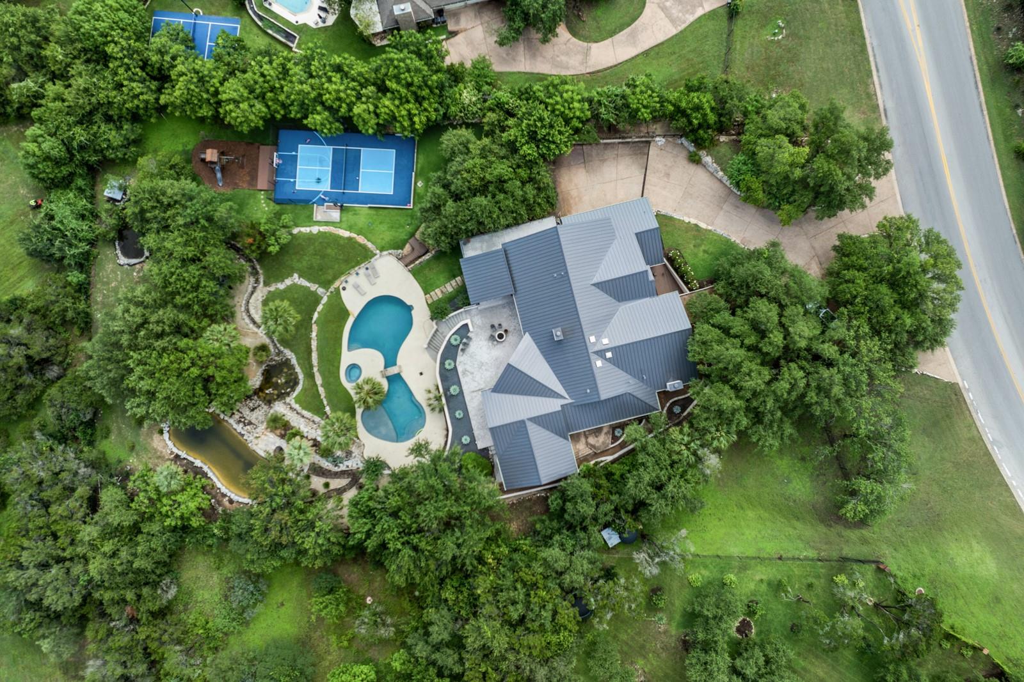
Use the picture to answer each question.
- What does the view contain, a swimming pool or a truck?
swimming pool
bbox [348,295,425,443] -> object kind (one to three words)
swimming pool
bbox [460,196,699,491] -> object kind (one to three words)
house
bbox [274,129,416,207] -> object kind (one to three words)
sports court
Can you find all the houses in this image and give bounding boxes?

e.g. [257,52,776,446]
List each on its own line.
[460,196,699,491]
[350,0,507,44]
